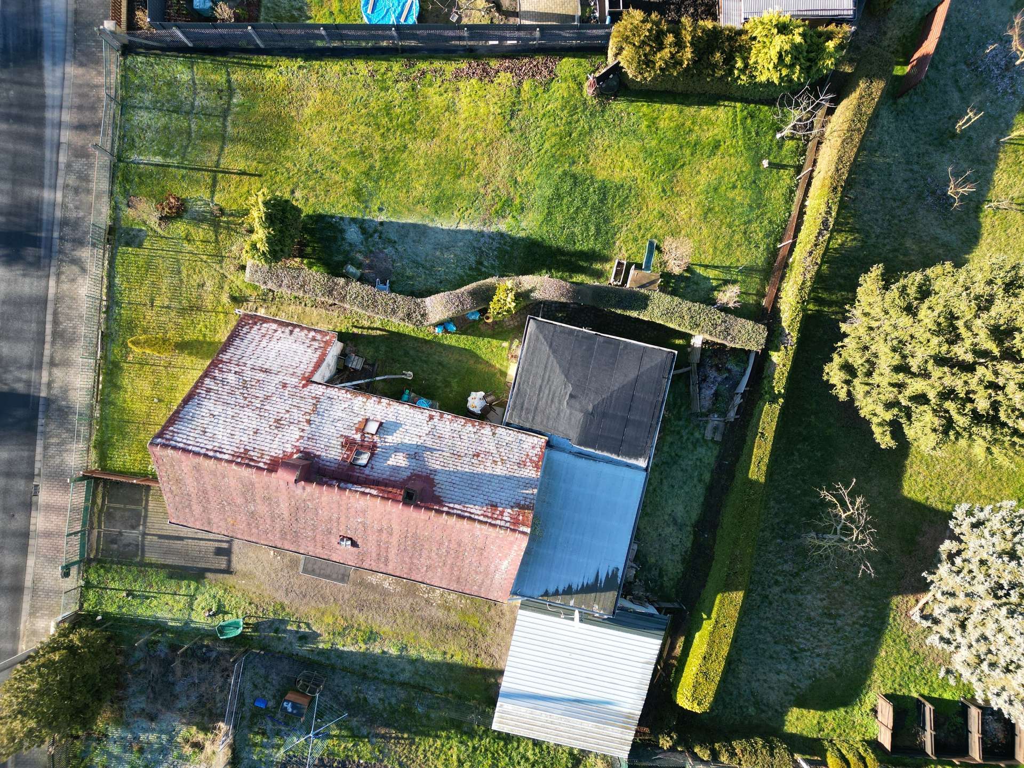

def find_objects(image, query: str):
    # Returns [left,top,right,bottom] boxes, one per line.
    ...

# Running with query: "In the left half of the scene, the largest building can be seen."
[147,309,547,604]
